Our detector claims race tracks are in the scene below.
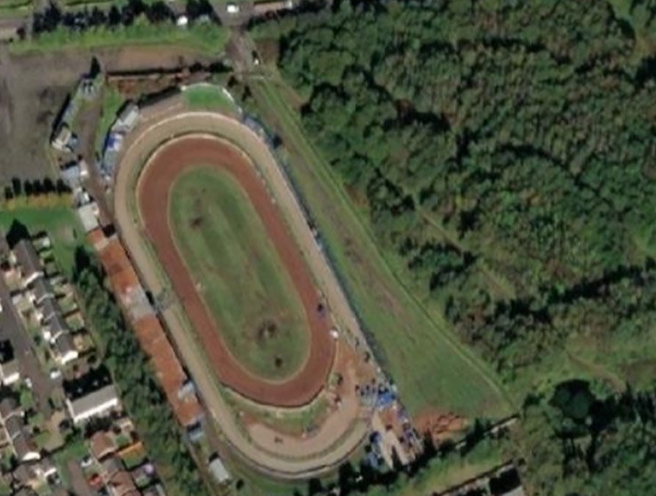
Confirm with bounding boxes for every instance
[114,110,384,474]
